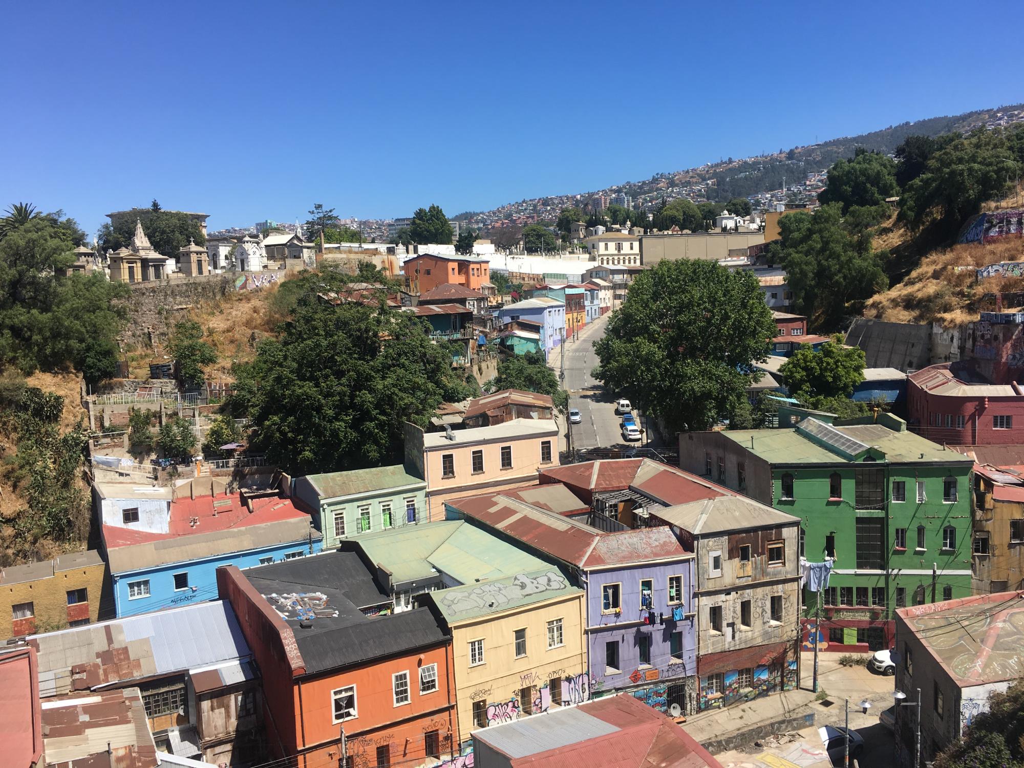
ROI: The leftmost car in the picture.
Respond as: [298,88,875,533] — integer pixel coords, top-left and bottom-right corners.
[569,407,582,424]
